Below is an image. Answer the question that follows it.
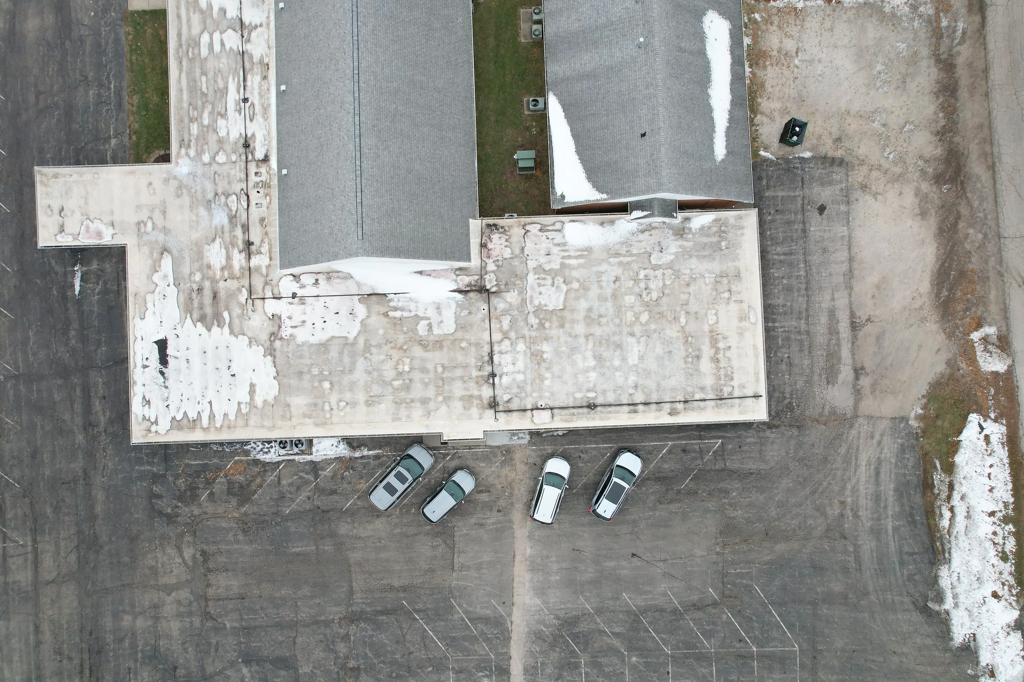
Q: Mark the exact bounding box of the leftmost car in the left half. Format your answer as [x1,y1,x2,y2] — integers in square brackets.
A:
[368,444,431,511]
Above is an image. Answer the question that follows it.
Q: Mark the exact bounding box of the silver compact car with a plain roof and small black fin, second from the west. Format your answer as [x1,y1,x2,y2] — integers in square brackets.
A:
[420,468,475,526]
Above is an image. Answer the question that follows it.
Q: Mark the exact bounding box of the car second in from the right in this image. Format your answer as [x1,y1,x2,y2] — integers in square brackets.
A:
[530,456,570,524]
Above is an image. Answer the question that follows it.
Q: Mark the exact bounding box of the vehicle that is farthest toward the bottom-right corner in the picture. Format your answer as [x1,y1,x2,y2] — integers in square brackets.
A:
[590,452,641,521]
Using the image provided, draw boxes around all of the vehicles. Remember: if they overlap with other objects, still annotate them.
[368,444,431,511]
[420,468,475,526]
[590,452,641,521]
[530,456,570,524]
